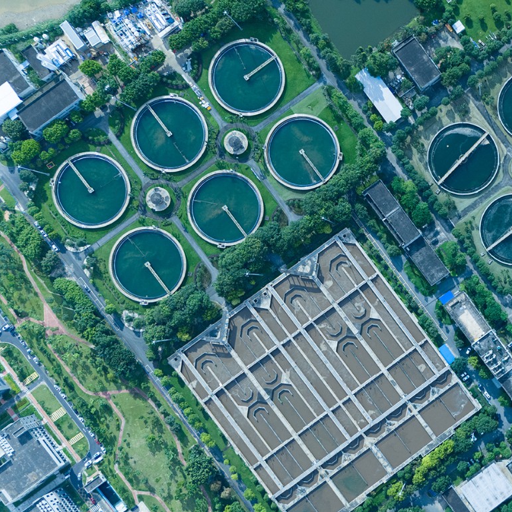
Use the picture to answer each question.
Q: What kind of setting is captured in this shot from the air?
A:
industrial area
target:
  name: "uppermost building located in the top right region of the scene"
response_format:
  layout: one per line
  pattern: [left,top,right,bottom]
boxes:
[392,35,442,93]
